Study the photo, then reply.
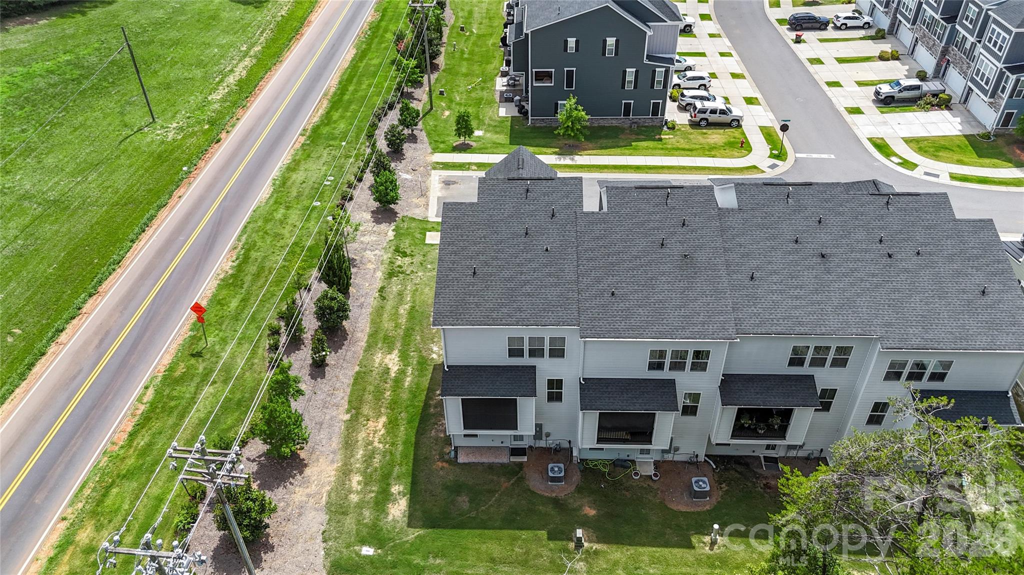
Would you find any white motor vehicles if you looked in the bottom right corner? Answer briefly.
No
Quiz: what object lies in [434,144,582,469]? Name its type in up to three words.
house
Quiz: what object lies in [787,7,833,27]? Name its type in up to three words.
car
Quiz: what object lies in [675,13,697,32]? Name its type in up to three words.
vehicle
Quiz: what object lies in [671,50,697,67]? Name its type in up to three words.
car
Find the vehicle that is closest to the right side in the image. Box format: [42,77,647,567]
[872,72,942,99]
